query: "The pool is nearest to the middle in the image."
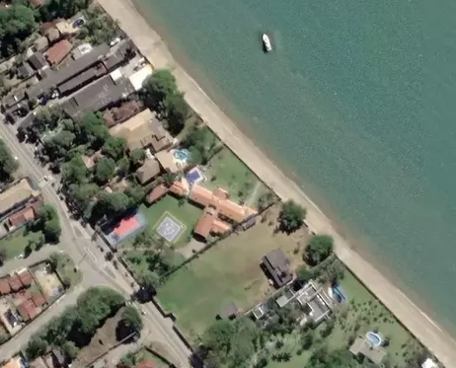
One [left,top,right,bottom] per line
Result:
[184,171,203,190]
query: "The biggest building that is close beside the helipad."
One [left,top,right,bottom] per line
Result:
[189,184,245,241]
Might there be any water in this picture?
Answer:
Yes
